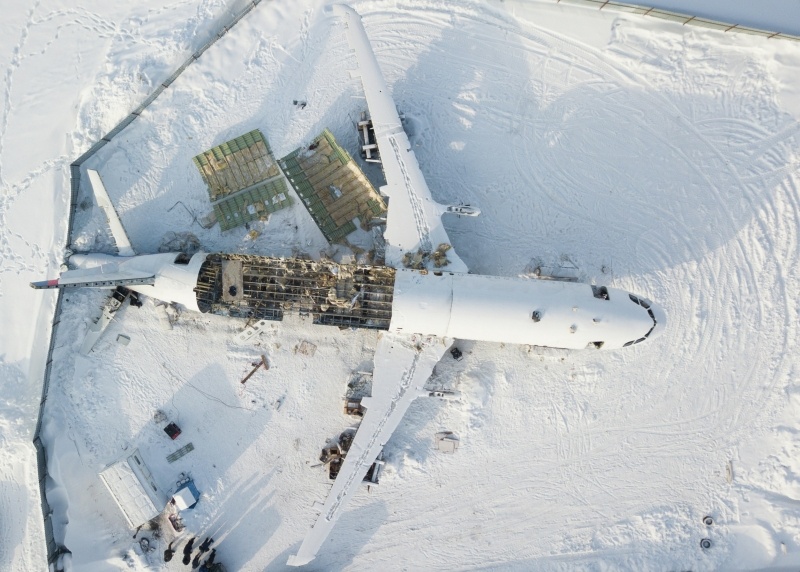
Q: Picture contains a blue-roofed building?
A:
No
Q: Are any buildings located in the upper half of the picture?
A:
No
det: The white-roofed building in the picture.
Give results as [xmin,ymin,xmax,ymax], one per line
[97,450,168,531]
